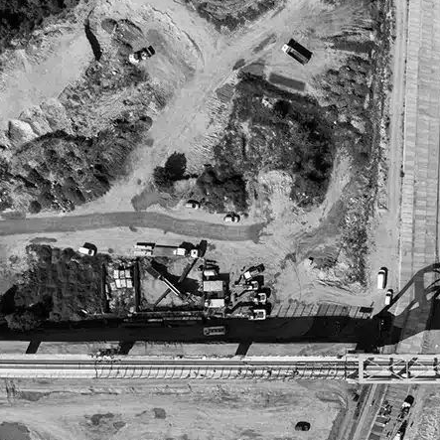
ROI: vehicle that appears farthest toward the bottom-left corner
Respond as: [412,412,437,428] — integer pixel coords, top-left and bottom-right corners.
[78,241,95,257]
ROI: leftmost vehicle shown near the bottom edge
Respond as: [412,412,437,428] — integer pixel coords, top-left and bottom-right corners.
[294,419,312,434]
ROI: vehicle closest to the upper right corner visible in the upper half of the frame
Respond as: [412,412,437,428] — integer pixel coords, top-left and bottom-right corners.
[282,41,314,68]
